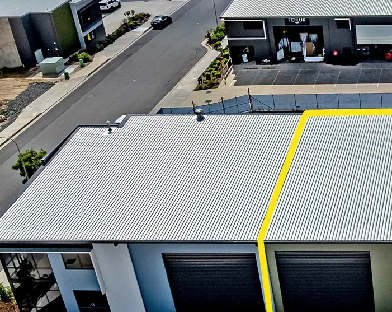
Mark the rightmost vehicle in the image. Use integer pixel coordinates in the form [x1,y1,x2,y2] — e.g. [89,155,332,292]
[152,12,179,26]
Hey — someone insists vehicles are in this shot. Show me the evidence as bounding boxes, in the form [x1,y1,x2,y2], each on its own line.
[101,0,126,12]
[152,12,179,26]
